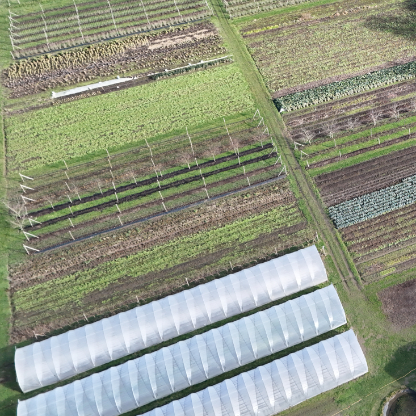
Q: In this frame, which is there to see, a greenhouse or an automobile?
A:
greenhouse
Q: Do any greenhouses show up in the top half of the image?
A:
No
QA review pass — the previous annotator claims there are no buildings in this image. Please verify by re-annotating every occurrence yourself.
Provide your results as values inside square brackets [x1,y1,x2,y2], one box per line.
[120,326,369,416]
[10,244,327,392]
[12,283,347,416]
